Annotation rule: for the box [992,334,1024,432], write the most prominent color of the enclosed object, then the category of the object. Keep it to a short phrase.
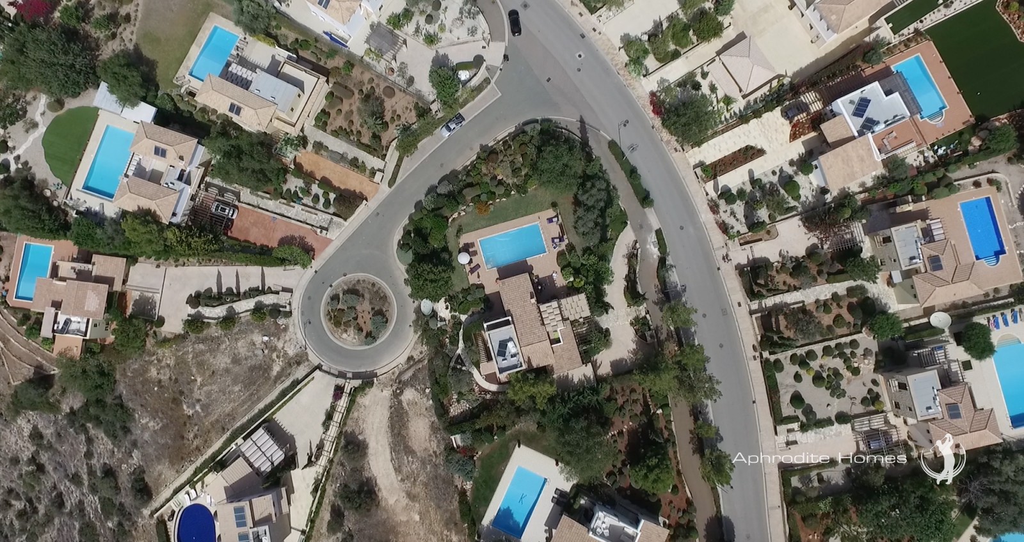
blue swimming pool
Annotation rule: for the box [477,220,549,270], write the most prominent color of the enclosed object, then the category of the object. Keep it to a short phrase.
blue swimming pool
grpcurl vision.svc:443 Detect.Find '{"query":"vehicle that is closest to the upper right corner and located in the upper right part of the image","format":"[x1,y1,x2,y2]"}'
[780,99,808,120]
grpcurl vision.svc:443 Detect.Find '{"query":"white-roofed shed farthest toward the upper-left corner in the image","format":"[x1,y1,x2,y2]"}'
[94,83,132,114]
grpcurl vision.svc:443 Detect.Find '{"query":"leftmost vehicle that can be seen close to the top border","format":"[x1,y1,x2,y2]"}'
[507,8,522,37]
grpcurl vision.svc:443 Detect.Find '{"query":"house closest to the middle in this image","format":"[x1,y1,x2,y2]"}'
[480,272,584,375]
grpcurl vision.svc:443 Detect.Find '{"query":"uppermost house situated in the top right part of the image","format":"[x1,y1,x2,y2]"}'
[785,0,893,50]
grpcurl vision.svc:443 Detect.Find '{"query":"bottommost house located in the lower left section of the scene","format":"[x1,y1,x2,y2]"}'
[204,458,293,542]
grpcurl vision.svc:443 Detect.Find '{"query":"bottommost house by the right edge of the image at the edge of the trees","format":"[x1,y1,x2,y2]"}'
[886,363,1003,454]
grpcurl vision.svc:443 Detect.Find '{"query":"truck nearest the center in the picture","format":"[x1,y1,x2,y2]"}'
[438,110,468,137]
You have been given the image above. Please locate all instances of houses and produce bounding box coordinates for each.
[204,458,293,542]
[867,221,987,307]
[31,254,134,357]
[812,81,924,191]
[112,120,211,224]
[194,59,333,135]
[543,499,669,542]
[480,272,584,375]
[302,0,390,35]
[785,0,893,50]
[886,363,1003,454]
